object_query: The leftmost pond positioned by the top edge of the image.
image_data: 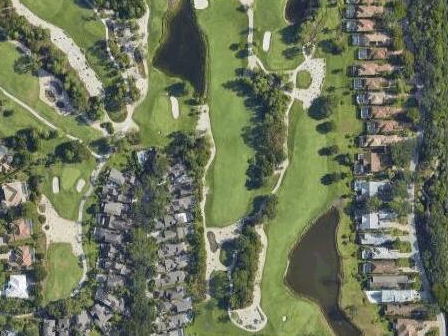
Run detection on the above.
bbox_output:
[153,0,206,94]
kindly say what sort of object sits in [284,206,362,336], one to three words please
pond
